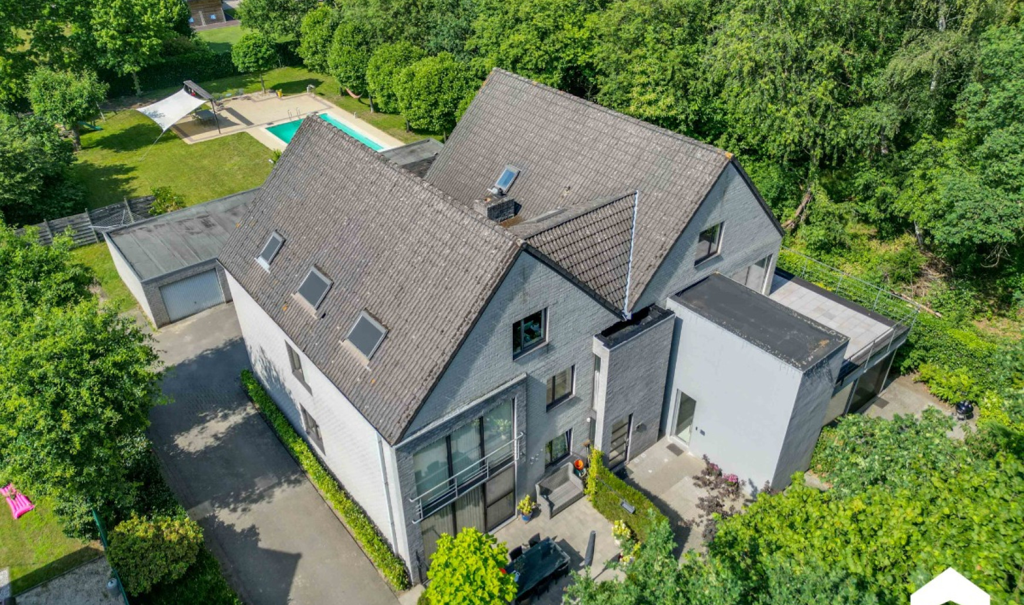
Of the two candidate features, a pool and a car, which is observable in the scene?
pool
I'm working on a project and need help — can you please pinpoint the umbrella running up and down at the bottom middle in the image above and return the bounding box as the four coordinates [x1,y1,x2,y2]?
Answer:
[585,519,600,568]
